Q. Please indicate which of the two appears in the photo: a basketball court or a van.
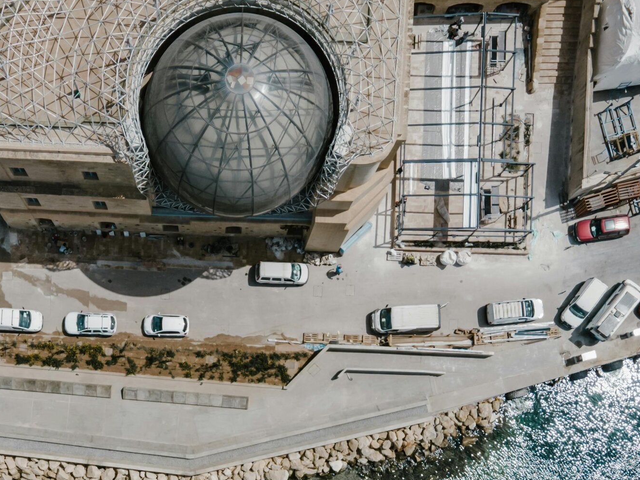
van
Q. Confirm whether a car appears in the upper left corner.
No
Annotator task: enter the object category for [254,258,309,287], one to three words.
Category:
car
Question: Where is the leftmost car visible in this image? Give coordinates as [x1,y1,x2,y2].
[0,306,44,335]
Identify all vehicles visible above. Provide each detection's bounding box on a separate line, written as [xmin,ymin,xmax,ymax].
[581,276,640,347]
[254,258,309,287]
[143,312,189,338]
[64,310,119,338]
[369,300,454,336]
[559,274,614,332]
[483,296,542,326]
[569,215,633,246]
[0,306,44,335]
